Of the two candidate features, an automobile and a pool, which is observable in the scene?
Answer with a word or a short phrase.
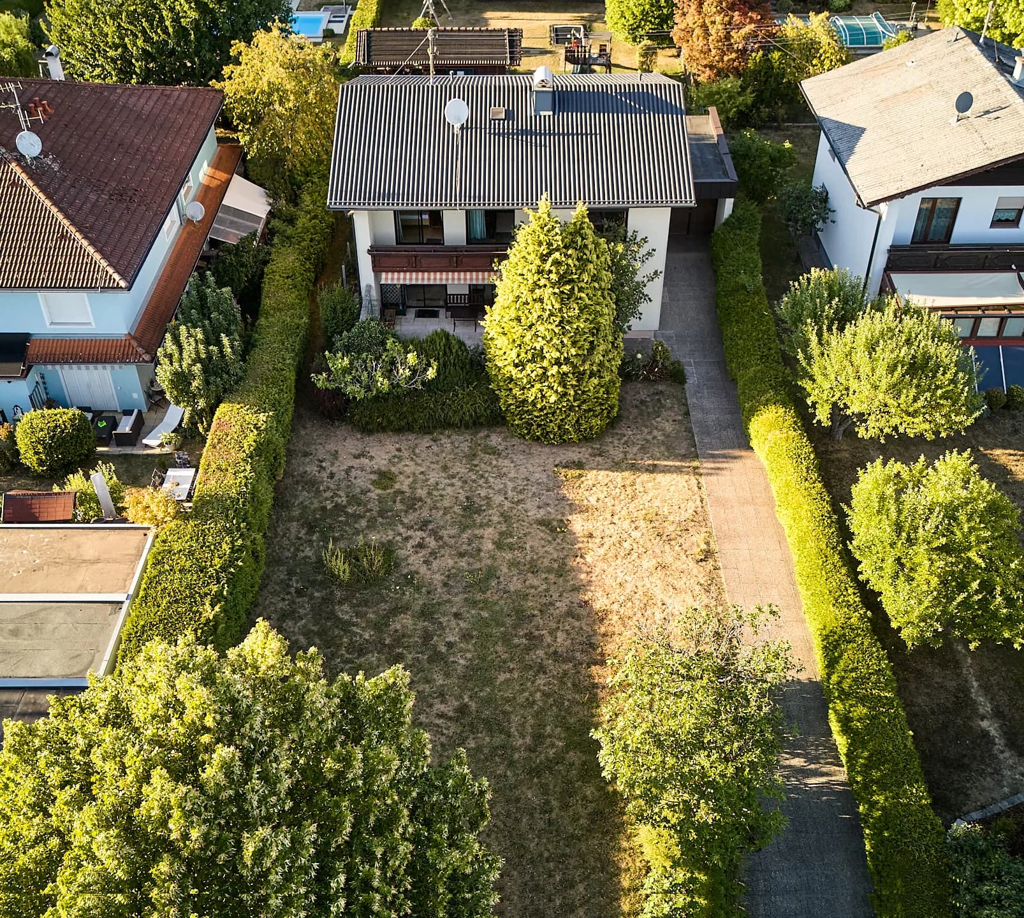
pool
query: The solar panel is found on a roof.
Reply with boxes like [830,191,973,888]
[0,324,33,375]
